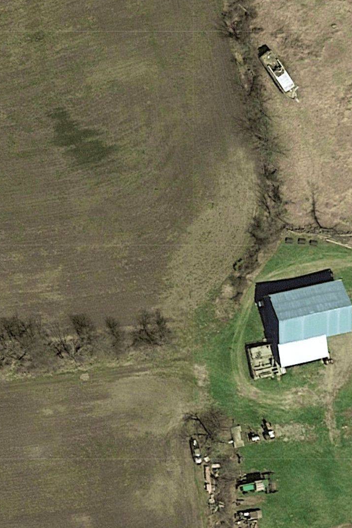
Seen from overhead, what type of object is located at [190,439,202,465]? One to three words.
vehicle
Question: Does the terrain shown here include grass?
Yes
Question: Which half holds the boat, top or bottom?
top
